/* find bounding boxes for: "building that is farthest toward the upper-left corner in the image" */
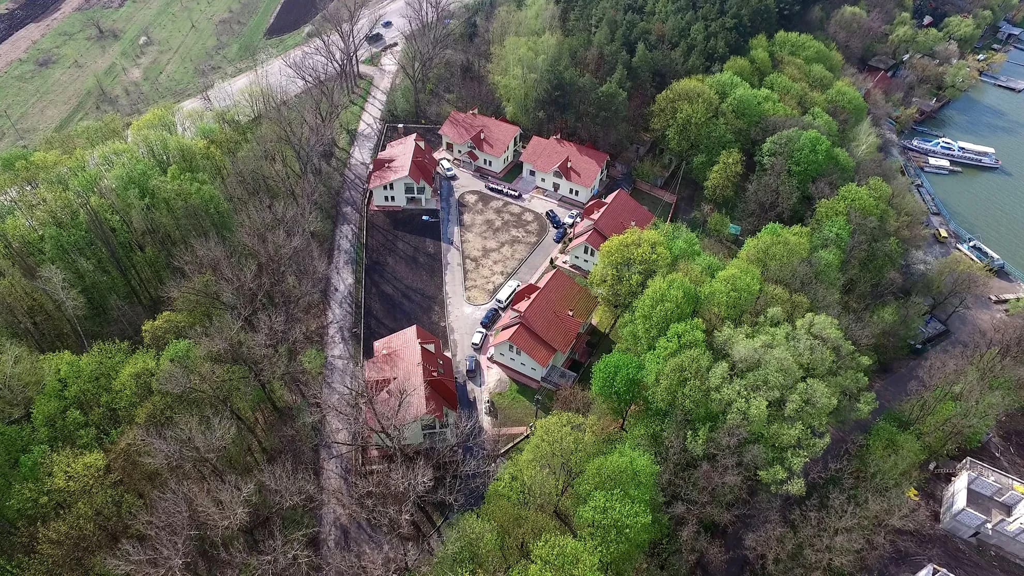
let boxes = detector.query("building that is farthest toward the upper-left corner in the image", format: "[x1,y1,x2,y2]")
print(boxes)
[367,133,438,209]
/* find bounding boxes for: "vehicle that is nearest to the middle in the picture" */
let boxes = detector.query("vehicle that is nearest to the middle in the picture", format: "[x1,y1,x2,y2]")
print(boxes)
[496,282,519,307]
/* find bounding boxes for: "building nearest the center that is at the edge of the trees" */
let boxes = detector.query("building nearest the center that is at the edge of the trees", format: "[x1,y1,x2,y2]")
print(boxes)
[486,269,600,390]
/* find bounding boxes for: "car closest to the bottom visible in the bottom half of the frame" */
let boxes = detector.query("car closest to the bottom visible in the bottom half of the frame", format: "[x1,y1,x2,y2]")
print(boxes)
[466,356,478,376]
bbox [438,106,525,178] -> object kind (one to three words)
house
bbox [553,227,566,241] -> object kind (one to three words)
vehicle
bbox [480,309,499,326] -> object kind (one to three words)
car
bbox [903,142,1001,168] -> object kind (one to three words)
boat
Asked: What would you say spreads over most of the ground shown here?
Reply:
trees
